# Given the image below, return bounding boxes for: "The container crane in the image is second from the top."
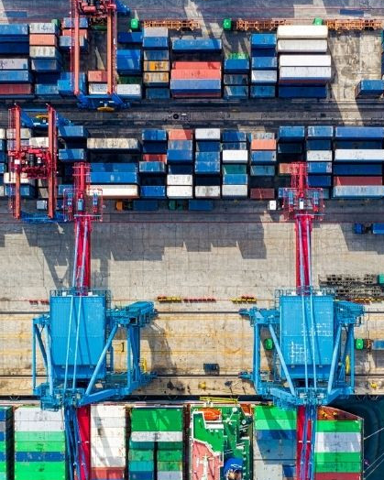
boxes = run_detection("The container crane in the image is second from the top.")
[11,102,75,220]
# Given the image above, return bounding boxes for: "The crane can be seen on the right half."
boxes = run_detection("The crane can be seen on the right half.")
[236,162,368,480]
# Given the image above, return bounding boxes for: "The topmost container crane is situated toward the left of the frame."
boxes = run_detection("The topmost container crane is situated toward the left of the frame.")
[70,0,129,110]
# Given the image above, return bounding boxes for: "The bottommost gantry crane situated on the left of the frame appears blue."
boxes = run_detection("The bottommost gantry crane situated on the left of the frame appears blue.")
[28,162,160,480]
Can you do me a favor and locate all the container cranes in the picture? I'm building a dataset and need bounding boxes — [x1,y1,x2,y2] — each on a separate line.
[28,162,160,480]
[70,0,129,110]
[11,102,75,220]
[236,162,368,480]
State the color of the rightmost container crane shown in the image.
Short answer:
blue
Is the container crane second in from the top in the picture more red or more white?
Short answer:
red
